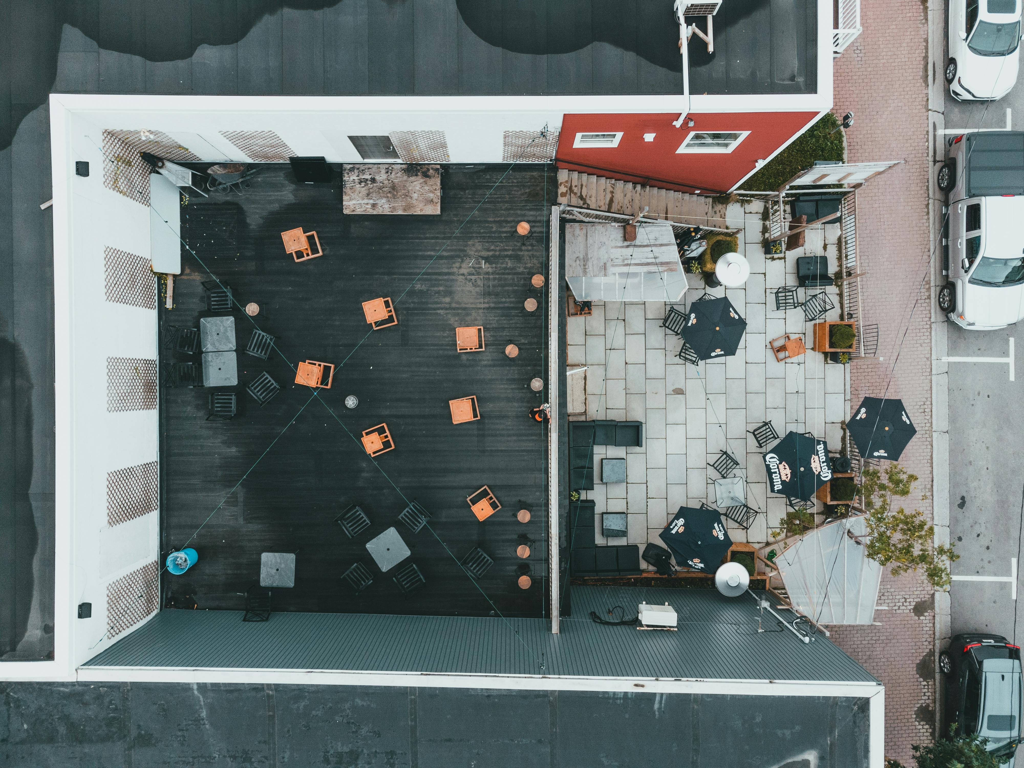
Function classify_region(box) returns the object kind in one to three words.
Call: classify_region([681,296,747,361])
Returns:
umbrella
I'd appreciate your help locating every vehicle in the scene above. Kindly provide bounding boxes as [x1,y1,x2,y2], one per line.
[936,130,1024,332]
[938,635,1024,768]
[938,0,1024,103]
